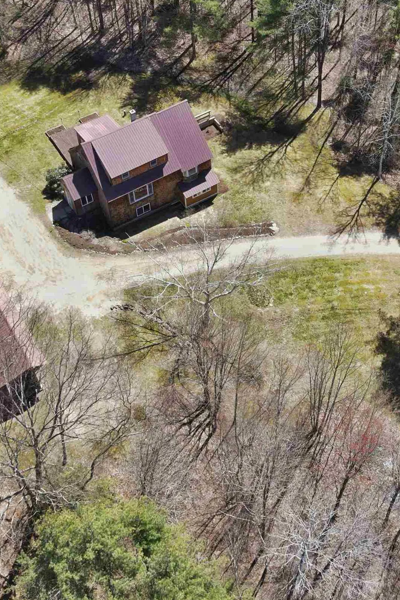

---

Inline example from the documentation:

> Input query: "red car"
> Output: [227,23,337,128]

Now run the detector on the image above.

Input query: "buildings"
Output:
[0,288,49,415]
[46,98,220,229]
